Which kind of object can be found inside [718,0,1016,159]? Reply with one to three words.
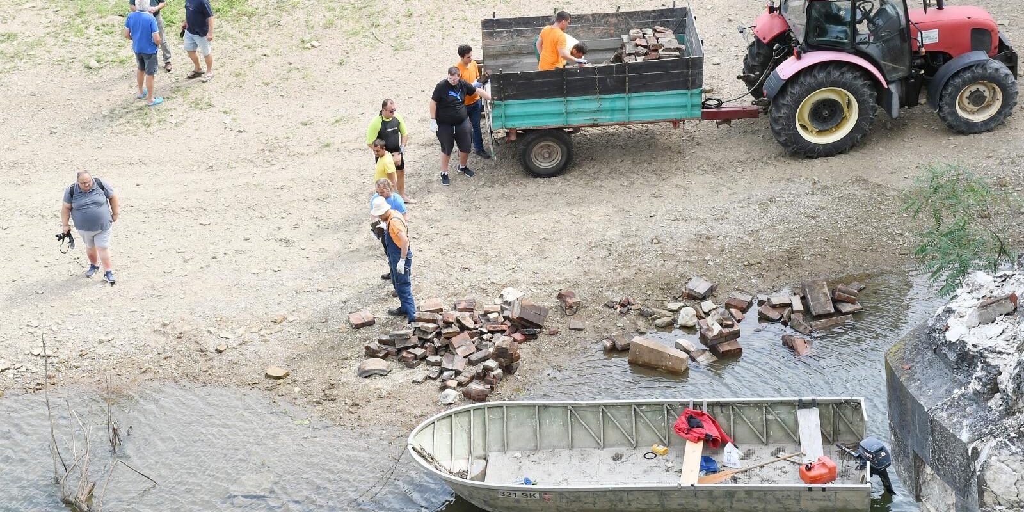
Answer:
work vehicle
